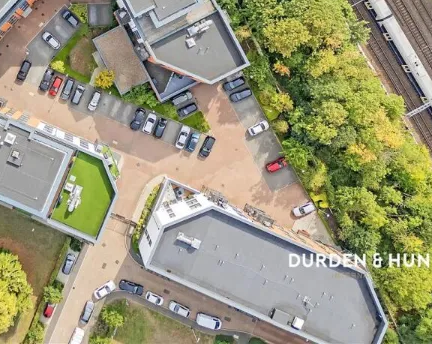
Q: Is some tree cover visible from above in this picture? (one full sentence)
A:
Yes, tree cover can be seen from above here.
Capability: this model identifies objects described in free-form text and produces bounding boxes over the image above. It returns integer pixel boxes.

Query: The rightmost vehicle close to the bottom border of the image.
[196,313,222,331]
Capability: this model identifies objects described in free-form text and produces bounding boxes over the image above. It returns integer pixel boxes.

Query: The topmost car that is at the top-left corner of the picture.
[61,8,80,28]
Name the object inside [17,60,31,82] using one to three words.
vehicle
